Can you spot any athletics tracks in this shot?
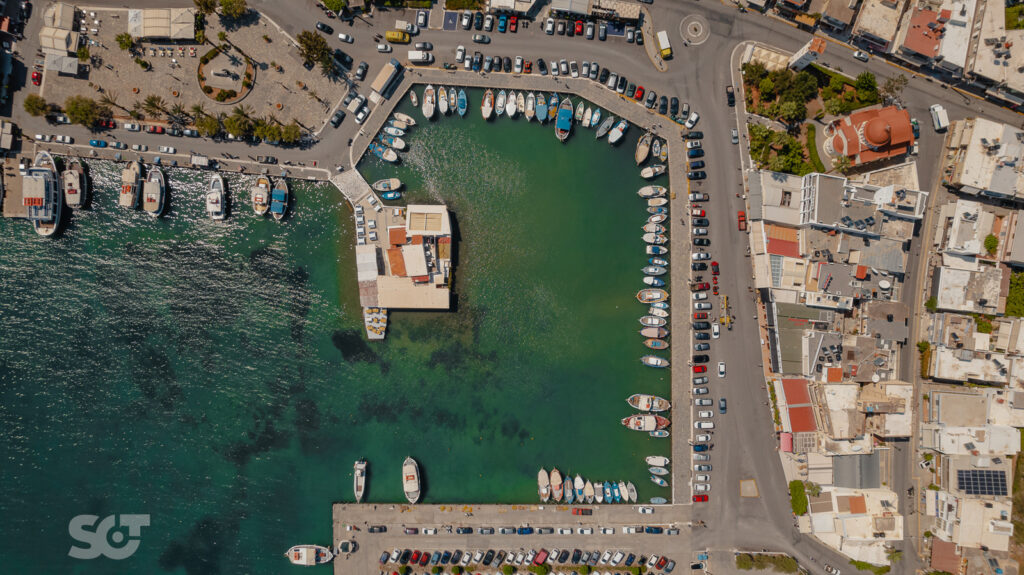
No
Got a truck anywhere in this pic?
Yes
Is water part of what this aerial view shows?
Yes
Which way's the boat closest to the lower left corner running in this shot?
from side to side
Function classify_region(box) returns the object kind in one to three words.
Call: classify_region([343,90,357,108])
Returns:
car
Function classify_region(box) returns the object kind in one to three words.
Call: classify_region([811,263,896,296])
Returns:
building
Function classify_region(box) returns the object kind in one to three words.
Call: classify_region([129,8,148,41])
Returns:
tent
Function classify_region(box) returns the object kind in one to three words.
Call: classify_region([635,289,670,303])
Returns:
boat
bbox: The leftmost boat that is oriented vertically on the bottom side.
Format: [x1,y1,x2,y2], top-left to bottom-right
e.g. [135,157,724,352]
[354,459,366,503]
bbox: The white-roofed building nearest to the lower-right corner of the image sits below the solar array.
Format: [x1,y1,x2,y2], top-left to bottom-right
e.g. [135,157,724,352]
[951,494,1017,551]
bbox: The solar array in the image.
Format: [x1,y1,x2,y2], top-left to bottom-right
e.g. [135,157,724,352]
[957,470,1007,495]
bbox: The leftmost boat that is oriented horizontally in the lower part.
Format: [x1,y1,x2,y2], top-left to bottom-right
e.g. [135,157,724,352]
[284,544,332,566]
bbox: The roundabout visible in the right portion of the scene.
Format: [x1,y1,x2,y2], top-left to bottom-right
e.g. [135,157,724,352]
[680,14,710,45]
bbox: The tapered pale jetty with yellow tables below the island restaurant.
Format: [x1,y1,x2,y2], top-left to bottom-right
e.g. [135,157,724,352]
[365,308,387,339]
